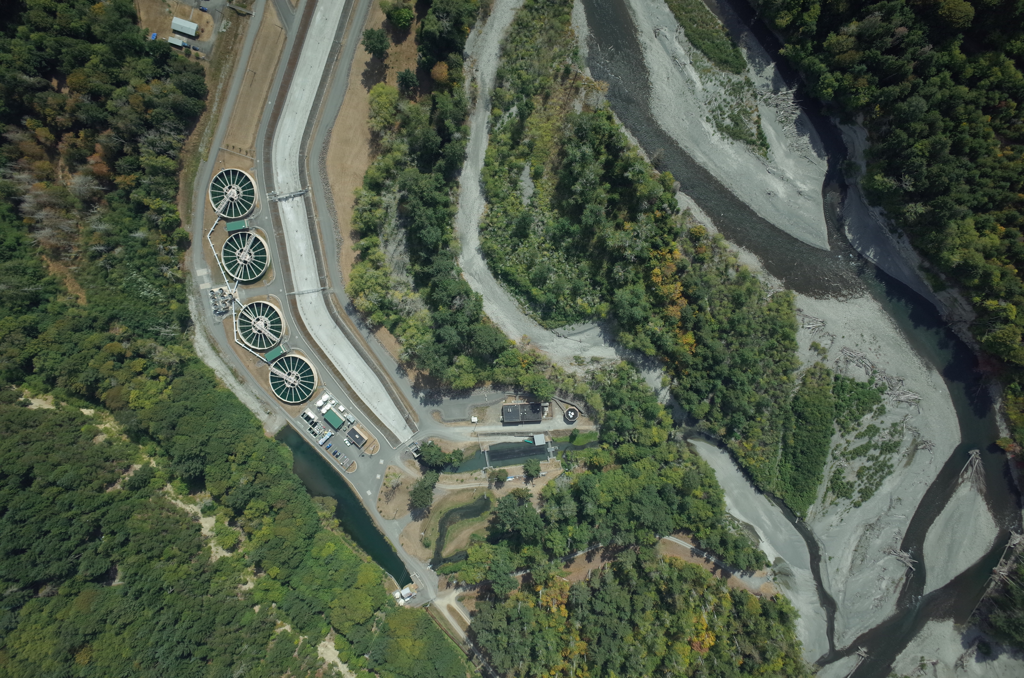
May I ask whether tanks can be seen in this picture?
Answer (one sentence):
Yes, looking at the shot, I can spot a tank.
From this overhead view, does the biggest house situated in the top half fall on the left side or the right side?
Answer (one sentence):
The biggest house situated in the top half is on the left side of the image.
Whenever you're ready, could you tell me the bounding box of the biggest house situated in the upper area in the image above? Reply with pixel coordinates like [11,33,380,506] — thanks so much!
[171,17,199,37]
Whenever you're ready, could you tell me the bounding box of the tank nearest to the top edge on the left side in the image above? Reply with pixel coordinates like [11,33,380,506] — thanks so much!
[209,169,259,218]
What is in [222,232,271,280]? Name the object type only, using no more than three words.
storage tank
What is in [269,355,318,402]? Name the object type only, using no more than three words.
storage tank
